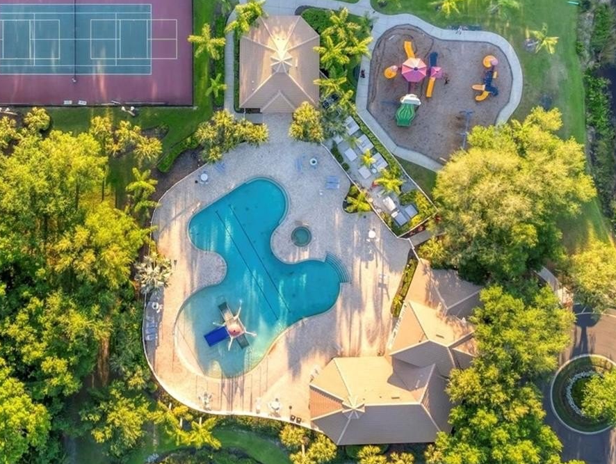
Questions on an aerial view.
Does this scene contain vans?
No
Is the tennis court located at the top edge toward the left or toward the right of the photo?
left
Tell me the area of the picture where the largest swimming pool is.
center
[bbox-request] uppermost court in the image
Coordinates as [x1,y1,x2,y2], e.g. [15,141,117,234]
[0,0,193,104]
